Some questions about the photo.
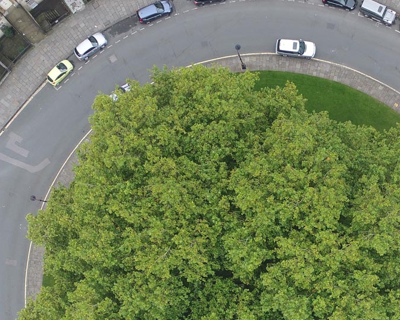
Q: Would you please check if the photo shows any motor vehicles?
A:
Yes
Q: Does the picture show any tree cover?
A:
Yes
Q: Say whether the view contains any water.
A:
No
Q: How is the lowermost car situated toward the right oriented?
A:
horizontally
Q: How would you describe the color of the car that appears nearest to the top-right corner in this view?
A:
white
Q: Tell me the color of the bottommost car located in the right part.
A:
white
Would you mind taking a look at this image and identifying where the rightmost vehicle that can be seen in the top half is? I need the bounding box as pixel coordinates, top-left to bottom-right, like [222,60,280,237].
[359,1,397,26]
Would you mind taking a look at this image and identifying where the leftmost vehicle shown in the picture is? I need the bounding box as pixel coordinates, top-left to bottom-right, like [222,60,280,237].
[45,58,74,88]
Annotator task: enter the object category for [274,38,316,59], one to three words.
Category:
car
